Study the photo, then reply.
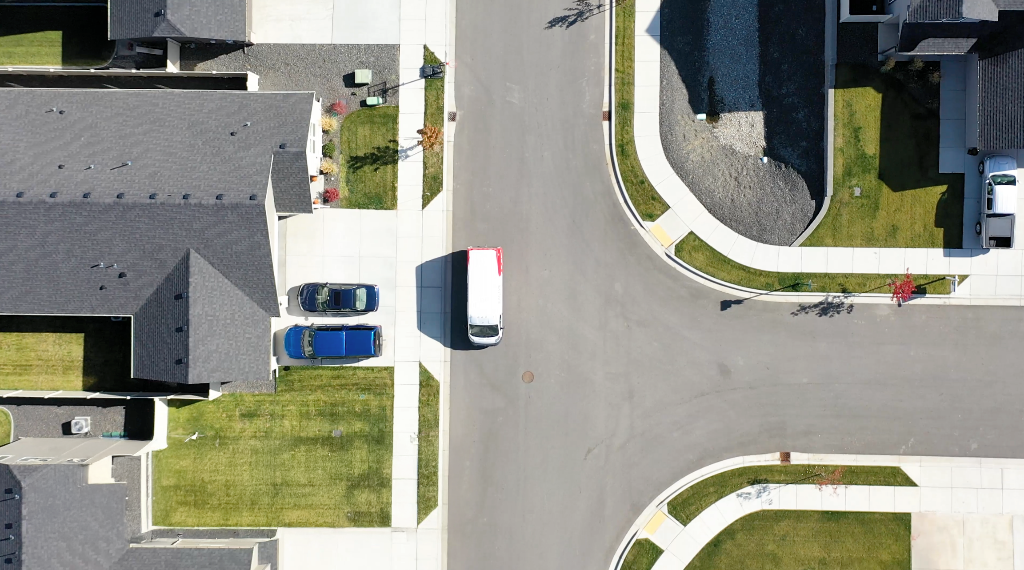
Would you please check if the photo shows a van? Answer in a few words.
Yes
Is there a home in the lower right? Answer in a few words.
No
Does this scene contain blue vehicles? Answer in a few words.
Yes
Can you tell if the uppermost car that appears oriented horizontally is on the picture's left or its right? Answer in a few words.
left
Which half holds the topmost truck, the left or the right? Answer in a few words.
right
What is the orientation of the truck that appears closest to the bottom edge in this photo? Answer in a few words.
from side to side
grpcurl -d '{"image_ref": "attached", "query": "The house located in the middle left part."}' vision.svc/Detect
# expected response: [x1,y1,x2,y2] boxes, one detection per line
[0,85,329,385]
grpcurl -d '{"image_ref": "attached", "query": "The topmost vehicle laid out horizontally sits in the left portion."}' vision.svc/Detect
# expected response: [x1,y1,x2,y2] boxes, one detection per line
[296,281,380,316]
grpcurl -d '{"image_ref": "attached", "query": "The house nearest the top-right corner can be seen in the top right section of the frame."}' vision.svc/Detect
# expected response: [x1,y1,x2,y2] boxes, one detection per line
[870,0,1024,149]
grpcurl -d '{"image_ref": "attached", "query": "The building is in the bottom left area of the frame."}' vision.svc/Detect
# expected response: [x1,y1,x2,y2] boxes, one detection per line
[0,446,279,570]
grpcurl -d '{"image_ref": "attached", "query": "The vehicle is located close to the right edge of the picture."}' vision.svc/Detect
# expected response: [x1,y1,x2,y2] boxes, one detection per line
[974,152,1024,251]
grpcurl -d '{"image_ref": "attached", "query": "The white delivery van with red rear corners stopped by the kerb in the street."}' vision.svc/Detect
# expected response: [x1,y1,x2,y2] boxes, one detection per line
[465,242,507,347]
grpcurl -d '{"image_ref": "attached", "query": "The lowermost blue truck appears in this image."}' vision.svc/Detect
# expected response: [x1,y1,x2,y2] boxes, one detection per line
[285,321,388,362]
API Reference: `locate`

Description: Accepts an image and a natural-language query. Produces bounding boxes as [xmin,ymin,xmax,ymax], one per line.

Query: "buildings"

[870,0,1024,149]
[0,446,279,570]
[0,85,329,385]
[0,0,257,48]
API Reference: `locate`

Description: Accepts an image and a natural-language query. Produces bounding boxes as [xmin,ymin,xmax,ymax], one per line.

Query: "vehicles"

[465,242,507,347]
[974,152,1024,251]
[285,321,388,362]
[296,281,380,316]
